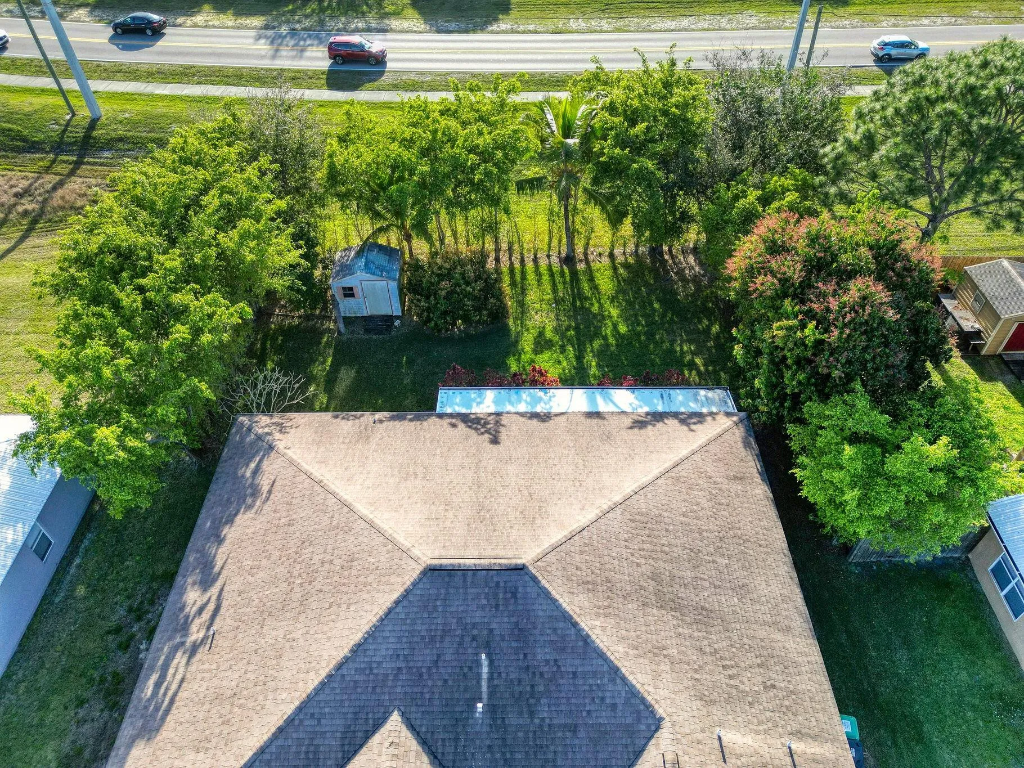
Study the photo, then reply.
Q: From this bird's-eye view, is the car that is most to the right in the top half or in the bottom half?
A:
top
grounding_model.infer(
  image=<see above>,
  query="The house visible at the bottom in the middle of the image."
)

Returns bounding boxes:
[104,414,853,768]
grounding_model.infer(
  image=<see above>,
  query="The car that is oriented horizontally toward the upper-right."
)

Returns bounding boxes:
[868,31,929,59]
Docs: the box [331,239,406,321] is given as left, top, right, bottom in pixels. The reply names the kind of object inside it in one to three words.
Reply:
shed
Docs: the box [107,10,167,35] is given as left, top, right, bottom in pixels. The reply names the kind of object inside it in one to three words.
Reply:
car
